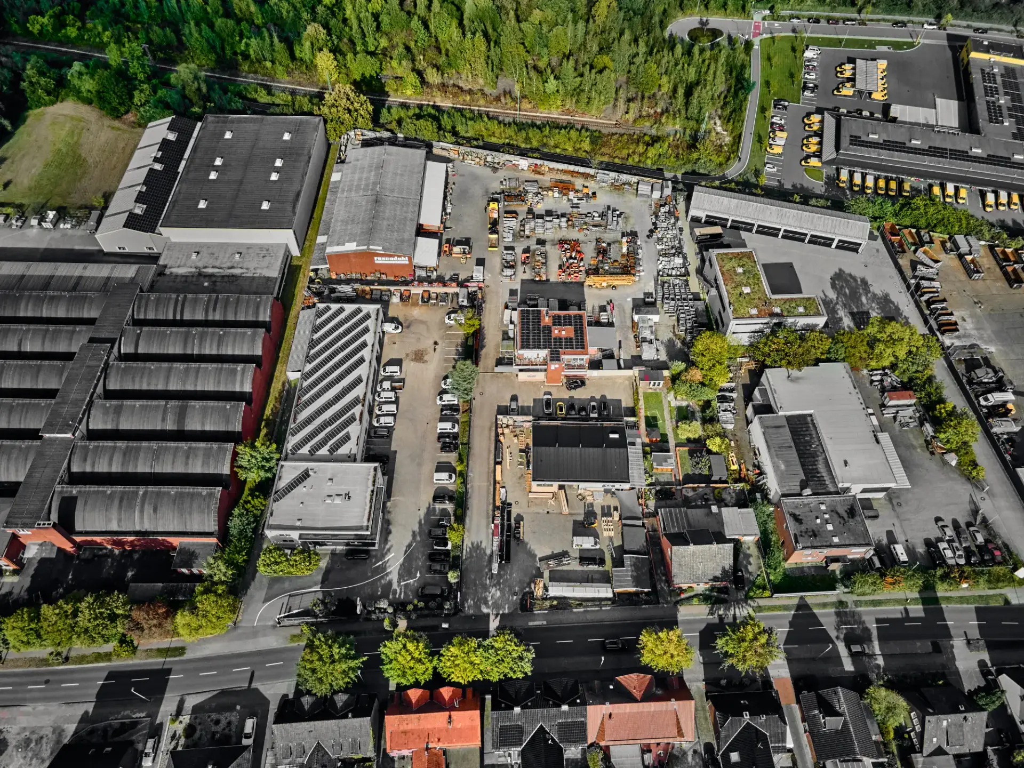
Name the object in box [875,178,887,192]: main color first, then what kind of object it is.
yellow vehicle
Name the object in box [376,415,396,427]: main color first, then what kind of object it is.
white vehicle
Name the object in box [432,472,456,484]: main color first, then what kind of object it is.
white vehicle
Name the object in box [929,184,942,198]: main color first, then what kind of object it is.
yellow vehicle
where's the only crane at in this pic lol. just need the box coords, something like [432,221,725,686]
[586,270,635,289]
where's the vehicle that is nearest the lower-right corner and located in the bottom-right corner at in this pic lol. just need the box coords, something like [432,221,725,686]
[985,659,1001,679]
